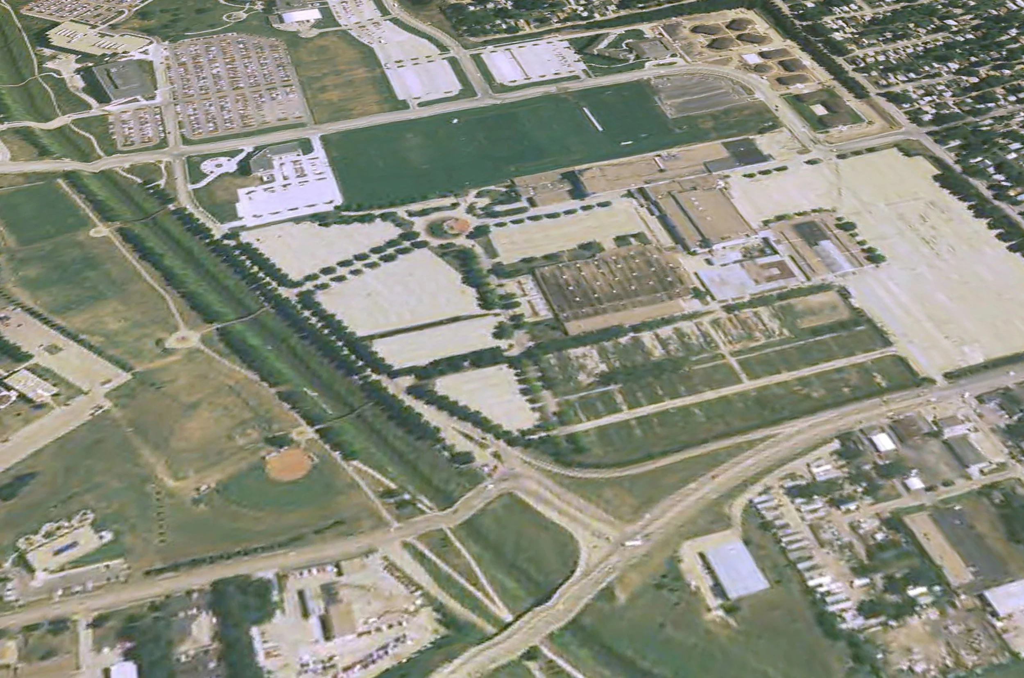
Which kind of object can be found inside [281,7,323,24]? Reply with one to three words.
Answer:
hangar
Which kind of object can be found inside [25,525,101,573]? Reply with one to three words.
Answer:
building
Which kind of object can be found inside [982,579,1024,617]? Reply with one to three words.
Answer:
shed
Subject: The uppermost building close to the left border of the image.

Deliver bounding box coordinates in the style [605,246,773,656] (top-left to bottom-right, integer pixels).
[45,19,151,57]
